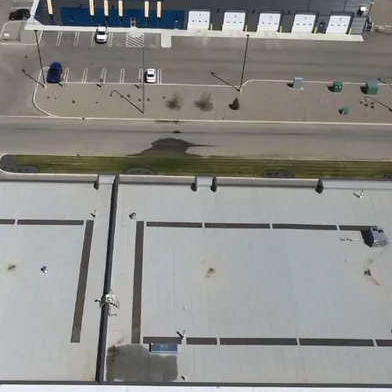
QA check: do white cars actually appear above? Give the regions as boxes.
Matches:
[96,24,108,41]
[143,66,156,82]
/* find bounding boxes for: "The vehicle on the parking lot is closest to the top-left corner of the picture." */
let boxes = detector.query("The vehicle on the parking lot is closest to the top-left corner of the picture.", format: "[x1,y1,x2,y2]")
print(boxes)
[6,6,30,19]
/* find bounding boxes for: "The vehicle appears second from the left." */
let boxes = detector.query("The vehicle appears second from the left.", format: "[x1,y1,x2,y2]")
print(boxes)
[48,63,62,79]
